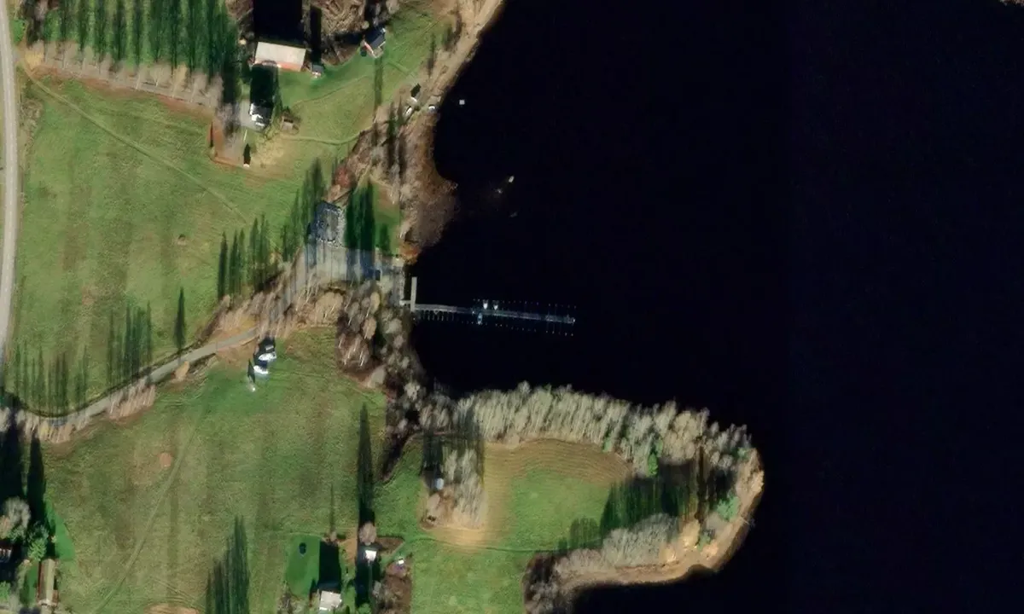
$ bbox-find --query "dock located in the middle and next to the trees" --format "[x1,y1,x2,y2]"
[403,276,575,323]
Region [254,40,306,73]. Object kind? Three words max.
barn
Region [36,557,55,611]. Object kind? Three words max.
building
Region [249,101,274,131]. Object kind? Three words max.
house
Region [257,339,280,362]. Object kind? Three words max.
house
